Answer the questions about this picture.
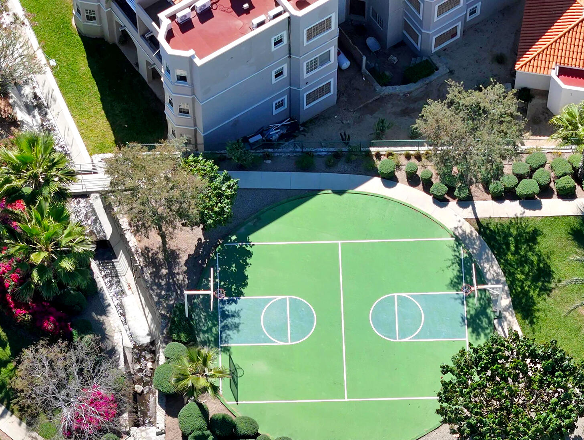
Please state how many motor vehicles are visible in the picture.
none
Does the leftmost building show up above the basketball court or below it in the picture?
above it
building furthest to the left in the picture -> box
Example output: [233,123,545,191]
[68,0,338,145]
